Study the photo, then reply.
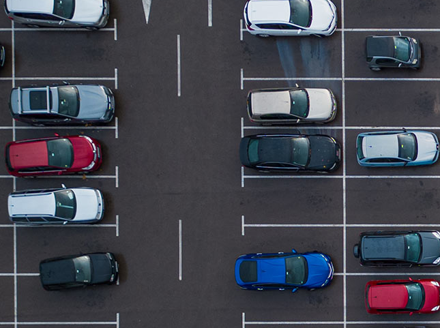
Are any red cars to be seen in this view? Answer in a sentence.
Yes, the photo shows a red car.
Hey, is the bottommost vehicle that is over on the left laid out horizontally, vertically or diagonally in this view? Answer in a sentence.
The bottommost vehicle that is over on the left is laid out horizontally.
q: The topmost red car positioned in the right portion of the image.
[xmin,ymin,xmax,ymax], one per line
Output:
[365,275,440,318]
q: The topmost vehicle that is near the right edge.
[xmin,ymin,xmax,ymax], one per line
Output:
[364,30,421,72]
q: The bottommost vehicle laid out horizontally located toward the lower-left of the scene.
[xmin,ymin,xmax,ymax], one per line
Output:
[37,250,121,292]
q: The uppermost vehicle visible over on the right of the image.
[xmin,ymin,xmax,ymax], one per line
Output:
[241,0,338,39]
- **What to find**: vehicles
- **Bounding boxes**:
[352,227,440,272]
[241,0,338,39]
[2,0,112,28]
[365,275,440,318]
[246,82,338,127]
[355,126,440,171]
[238,129,342,175]
[7,81,118,127]
[6,183,108,227]
[2,131,104,179]
[364,30,421,72]
[37,250,121,292]
[232,248,336,294]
